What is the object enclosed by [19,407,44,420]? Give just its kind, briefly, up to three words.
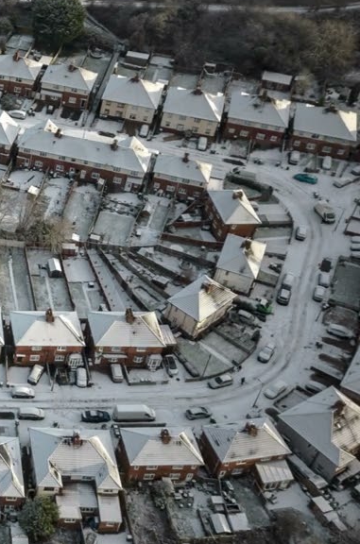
vehicle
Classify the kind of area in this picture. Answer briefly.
residential area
